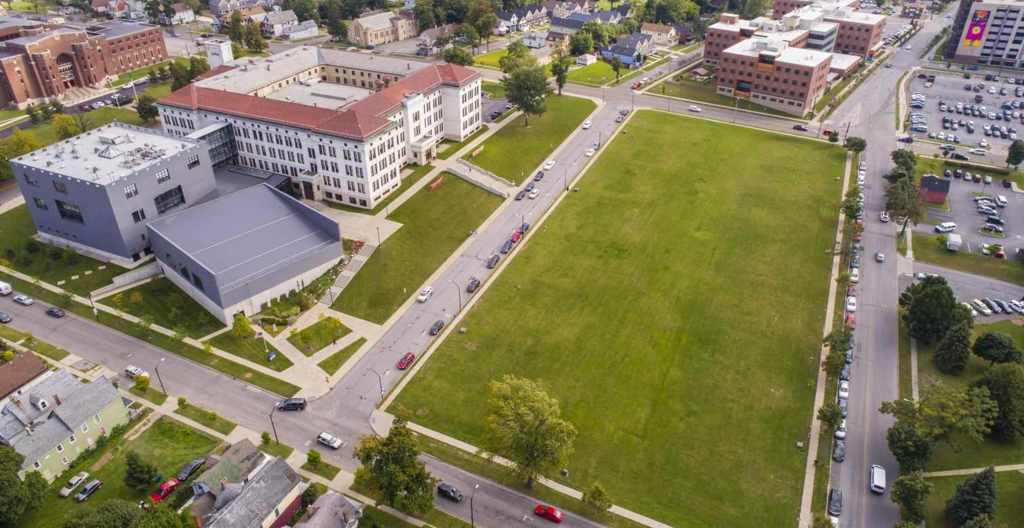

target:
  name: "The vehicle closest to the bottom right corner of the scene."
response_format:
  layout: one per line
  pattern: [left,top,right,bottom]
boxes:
[869,464,887,495]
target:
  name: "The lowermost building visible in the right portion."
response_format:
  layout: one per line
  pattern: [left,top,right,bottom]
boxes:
[919,171,953,204]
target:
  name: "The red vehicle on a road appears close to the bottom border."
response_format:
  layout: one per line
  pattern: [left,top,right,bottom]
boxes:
[533,504,564,525]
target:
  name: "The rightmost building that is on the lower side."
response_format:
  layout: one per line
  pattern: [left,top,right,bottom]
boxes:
[284,491,376,528]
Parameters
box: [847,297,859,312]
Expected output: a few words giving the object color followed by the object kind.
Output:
white vehicle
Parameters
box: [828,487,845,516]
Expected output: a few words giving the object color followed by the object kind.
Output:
gray car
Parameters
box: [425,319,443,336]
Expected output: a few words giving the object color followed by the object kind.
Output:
gray car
